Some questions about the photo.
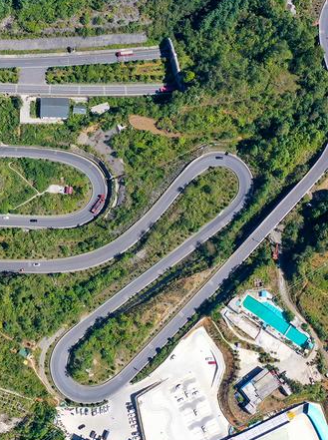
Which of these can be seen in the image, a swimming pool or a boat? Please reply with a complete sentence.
Visible in the photo is a swimming pool.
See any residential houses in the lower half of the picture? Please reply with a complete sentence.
Yes, looking in the lower half of the picture, one can make out a residential house.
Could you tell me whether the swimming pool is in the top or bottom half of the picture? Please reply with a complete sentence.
You can find the swimming pool in the bottom half.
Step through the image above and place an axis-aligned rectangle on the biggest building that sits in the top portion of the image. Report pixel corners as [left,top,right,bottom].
[40,98,69,118]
